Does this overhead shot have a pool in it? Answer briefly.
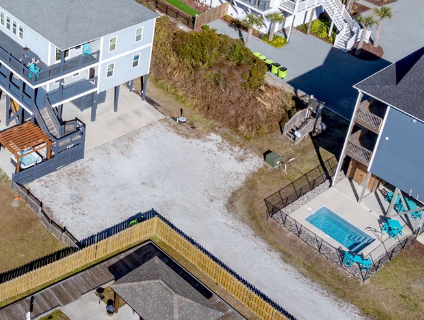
Yes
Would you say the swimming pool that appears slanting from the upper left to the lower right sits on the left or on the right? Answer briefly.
right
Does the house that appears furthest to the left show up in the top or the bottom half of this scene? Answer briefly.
top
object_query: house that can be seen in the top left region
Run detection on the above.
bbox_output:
[0,0,160,170]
